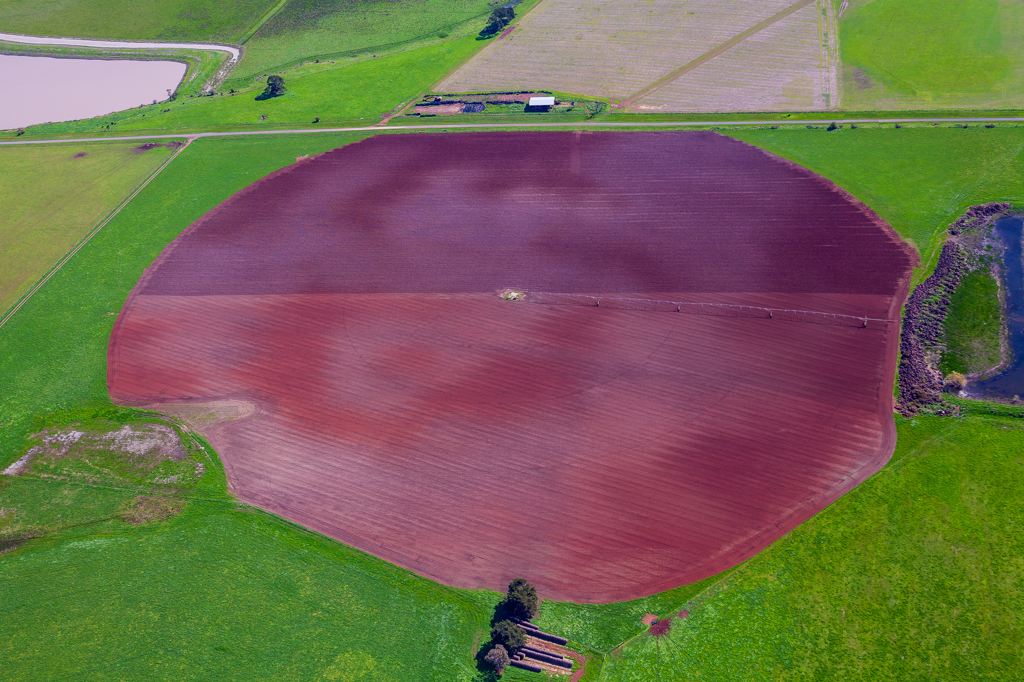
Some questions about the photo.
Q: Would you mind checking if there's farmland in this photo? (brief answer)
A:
Yes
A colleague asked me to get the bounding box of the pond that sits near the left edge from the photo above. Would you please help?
[0,54,186,129]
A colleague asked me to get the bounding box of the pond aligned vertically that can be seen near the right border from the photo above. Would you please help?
[965,215,1024,398]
